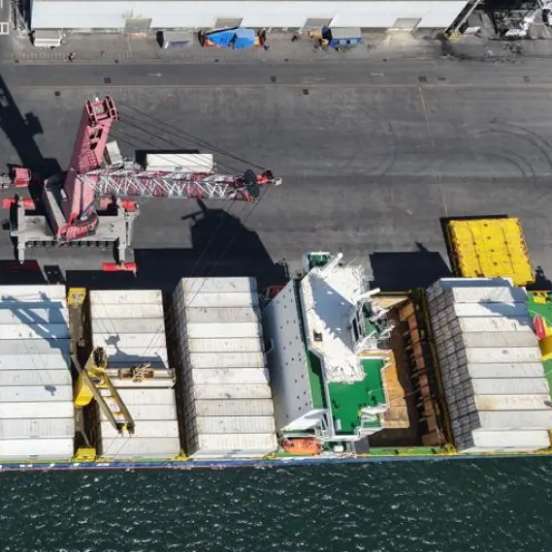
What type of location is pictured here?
port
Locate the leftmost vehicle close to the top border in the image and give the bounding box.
[27,27,60,47]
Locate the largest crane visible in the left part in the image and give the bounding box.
[10,97,286,377]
